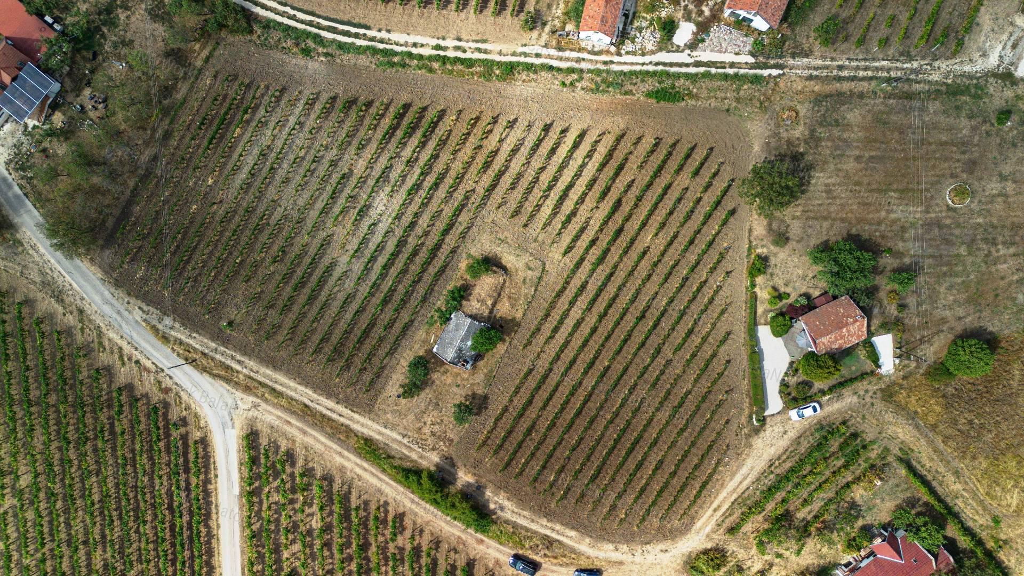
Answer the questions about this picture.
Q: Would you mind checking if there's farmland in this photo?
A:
Yes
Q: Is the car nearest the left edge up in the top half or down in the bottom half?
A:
bottom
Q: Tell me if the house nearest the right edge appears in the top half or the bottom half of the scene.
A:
bottom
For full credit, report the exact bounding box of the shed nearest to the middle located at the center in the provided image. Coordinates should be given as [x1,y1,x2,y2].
[431,310,492,370]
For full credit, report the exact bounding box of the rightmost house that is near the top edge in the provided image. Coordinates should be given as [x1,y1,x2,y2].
[722,0,789,32]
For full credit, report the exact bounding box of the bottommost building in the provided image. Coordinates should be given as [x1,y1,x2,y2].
[846,527,957,576]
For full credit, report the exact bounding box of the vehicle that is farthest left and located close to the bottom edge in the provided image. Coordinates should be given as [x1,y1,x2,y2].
[506,552,540,576]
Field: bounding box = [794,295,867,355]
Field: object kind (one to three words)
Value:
house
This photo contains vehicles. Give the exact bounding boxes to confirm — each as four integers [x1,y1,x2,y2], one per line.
[506,552,540,576]
[571,567,603,576]
[788,401,822,420]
